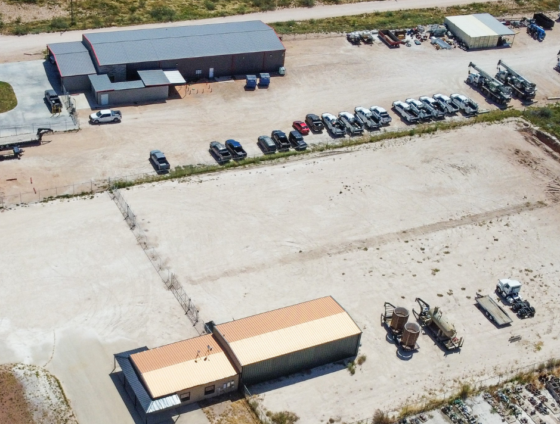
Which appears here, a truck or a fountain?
truck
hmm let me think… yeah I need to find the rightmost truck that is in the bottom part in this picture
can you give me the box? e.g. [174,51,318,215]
[501,285,537,319]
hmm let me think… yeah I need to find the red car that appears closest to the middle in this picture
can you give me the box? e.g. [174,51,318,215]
[293,121,310,136]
